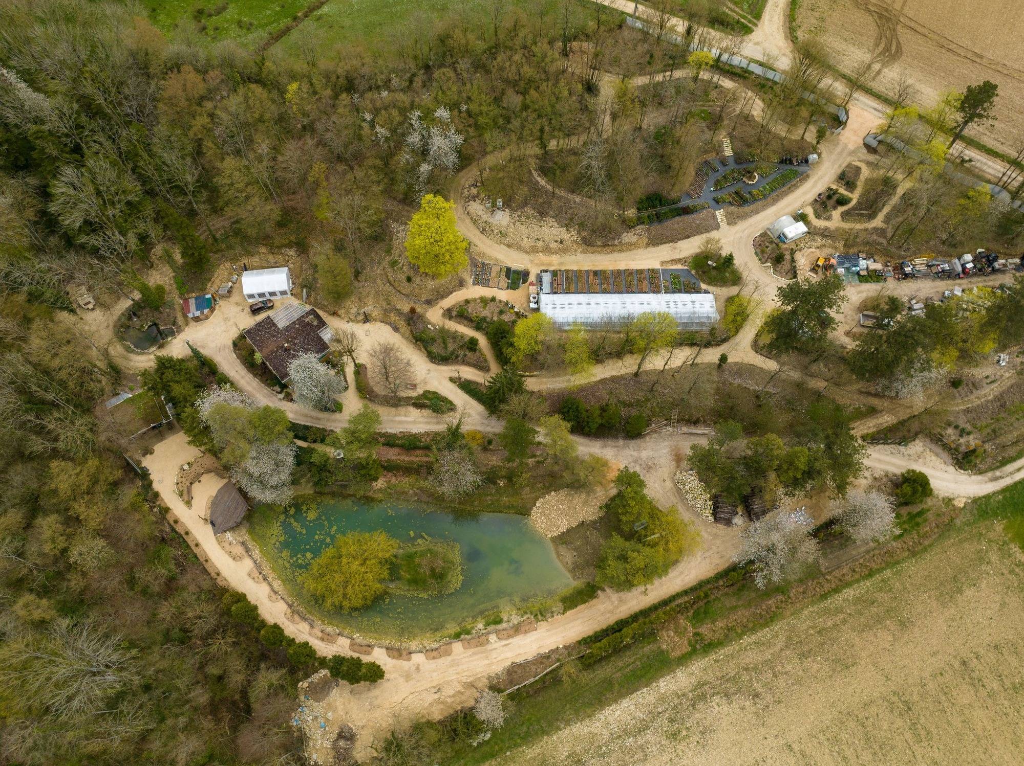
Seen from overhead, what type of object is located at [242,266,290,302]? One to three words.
shed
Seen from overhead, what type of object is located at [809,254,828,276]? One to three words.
work vehicle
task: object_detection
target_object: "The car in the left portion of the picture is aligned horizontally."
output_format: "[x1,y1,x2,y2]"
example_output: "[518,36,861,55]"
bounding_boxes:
[247,301,275,316]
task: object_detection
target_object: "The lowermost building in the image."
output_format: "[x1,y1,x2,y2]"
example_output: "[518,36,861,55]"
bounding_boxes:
[209,481,252,539]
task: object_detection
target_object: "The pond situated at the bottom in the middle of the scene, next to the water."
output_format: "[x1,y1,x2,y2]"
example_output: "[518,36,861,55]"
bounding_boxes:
[248,495,571,645]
